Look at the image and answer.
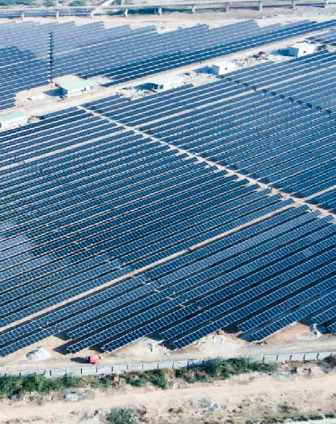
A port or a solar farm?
solar farm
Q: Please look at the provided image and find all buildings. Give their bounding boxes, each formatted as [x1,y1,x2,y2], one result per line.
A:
[149,75,186,93]
[288,41,316,57]
[210,59,235,74]
[0,110,28,130]
[59,78,98,97]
